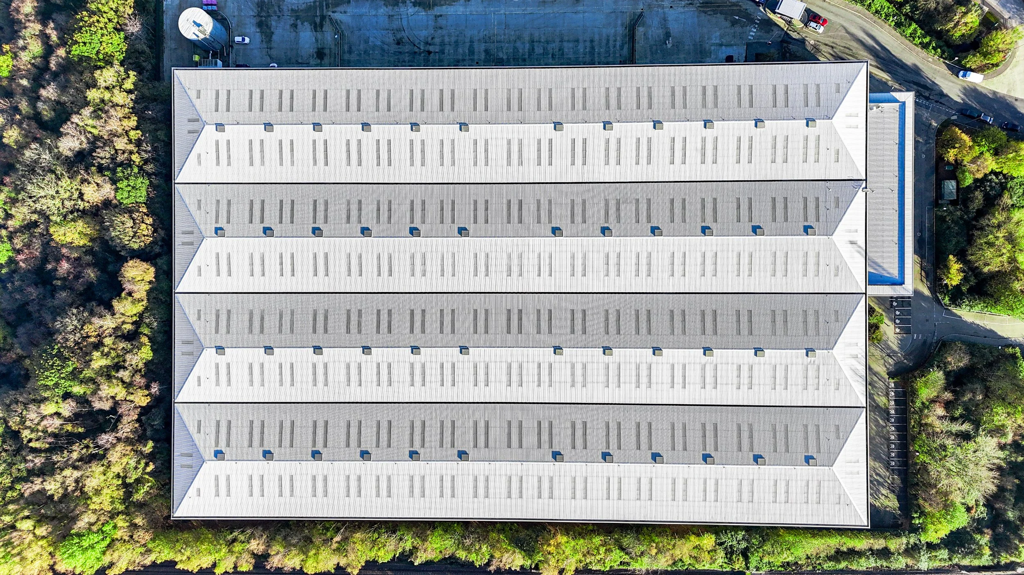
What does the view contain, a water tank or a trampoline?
water tank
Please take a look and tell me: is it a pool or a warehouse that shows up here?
warehouse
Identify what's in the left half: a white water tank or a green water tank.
white water tank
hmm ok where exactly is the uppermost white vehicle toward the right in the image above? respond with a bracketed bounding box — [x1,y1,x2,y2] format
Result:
[806,20,824,33]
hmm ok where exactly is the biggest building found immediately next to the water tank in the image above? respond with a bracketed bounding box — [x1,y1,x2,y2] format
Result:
[171,59,870,529]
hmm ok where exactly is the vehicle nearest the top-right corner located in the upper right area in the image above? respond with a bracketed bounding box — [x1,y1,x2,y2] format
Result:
[959,70,986,82]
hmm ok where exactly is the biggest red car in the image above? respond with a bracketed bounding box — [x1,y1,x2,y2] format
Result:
[809,13,827,26]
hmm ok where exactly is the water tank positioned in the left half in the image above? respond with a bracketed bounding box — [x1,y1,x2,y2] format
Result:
[179,6,226,58]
